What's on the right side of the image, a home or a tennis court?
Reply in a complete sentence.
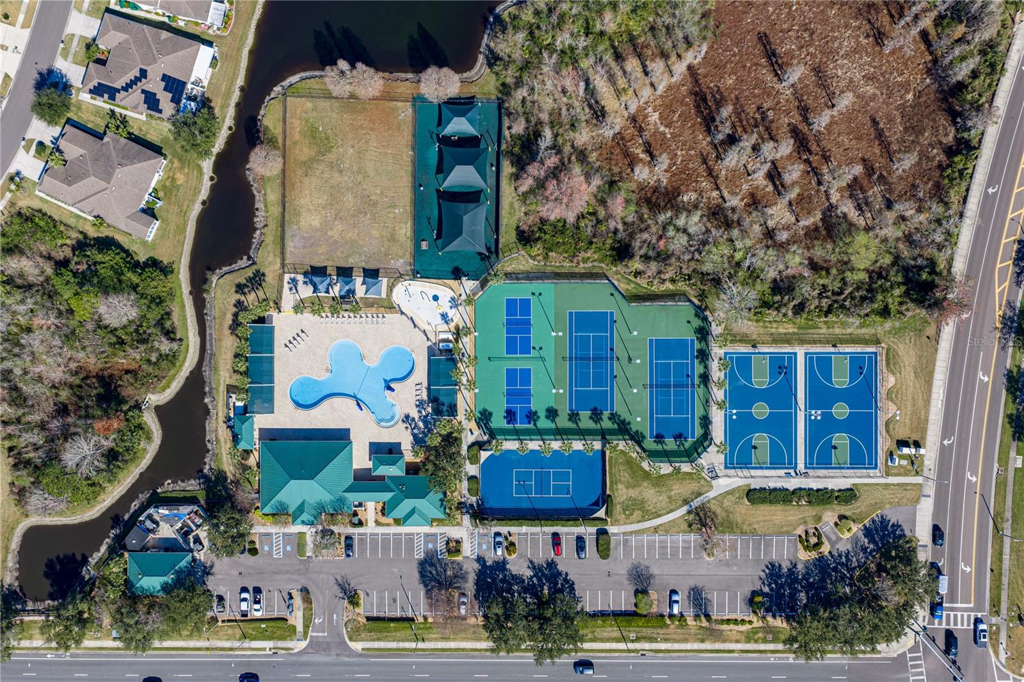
The one visible on the right side of the image is a tennis court.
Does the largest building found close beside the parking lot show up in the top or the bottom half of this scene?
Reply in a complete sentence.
It is in the bottom half that the largest building found close beside the parking lot appears.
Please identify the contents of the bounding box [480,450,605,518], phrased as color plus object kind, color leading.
blue sports court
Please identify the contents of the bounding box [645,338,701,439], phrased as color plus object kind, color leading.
blue tennis court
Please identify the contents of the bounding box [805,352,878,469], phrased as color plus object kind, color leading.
blue basketball court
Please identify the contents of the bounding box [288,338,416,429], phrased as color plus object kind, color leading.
blue swimming pool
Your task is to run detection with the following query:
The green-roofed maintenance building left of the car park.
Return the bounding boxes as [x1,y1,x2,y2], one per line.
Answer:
[127,552,195,595]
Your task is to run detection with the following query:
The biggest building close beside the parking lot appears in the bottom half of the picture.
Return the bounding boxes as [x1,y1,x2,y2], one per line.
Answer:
[260,441,445,526]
